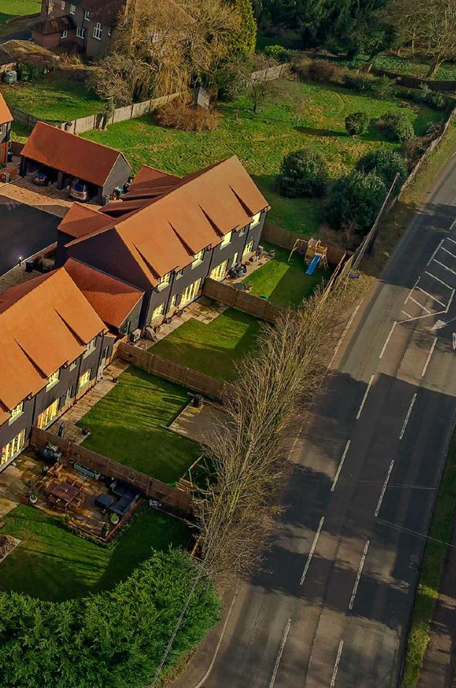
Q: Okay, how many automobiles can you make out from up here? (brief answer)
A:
2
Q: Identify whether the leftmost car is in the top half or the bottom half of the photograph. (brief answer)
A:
top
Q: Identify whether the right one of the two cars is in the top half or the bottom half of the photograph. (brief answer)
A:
top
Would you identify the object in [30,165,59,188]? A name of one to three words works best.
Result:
car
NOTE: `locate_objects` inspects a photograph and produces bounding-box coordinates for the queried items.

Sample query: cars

[67,177,94,203]
[30,165,59,188]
